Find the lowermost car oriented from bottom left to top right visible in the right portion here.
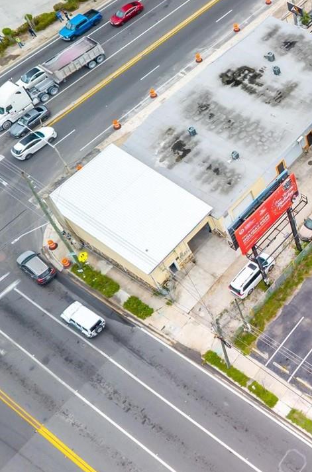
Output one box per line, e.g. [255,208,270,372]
[224,252,271,295]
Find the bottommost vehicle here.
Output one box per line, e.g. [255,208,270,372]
[53,294,105,335]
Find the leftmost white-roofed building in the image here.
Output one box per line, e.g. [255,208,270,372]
[49,138,215,286]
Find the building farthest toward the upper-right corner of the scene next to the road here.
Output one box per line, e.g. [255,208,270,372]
[120,13,312,231]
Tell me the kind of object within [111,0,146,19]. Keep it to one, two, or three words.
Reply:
car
